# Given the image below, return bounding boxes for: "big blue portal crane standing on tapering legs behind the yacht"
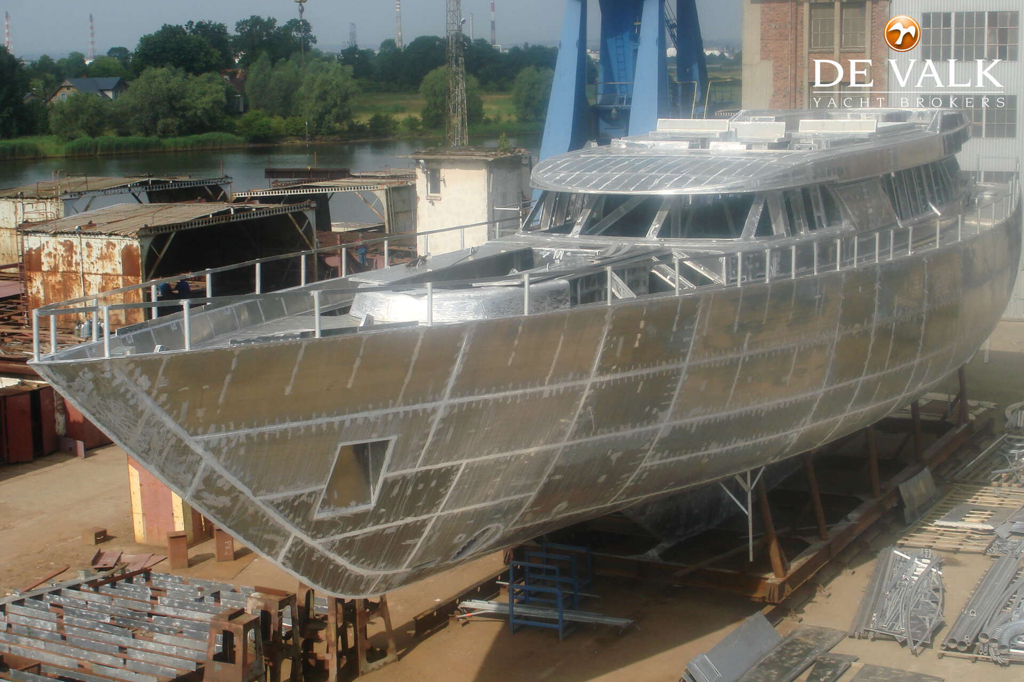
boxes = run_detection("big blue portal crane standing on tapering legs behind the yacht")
[530,0,707,227]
